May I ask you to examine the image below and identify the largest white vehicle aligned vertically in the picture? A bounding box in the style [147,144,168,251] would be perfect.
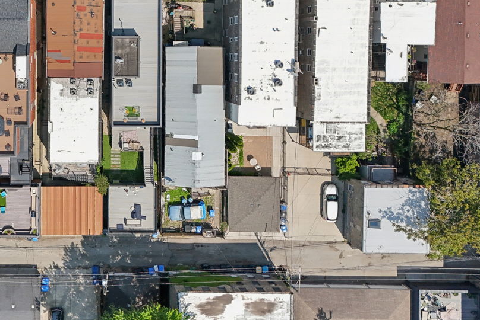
[320,181,340,223]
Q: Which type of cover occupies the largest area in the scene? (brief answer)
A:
buildings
